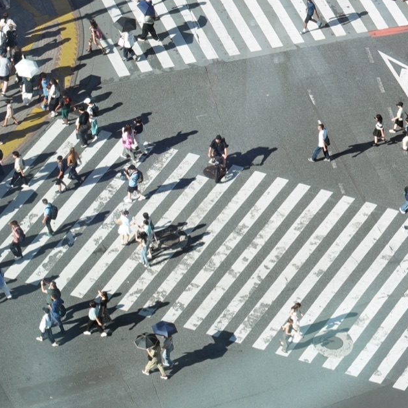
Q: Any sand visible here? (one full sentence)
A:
No, the scene doesn't show any sand.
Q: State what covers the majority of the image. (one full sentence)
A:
What you mostly see from above here is paved ground.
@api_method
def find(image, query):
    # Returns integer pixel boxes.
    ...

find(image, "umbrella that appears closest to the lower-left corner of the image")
[138,332,161,354]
